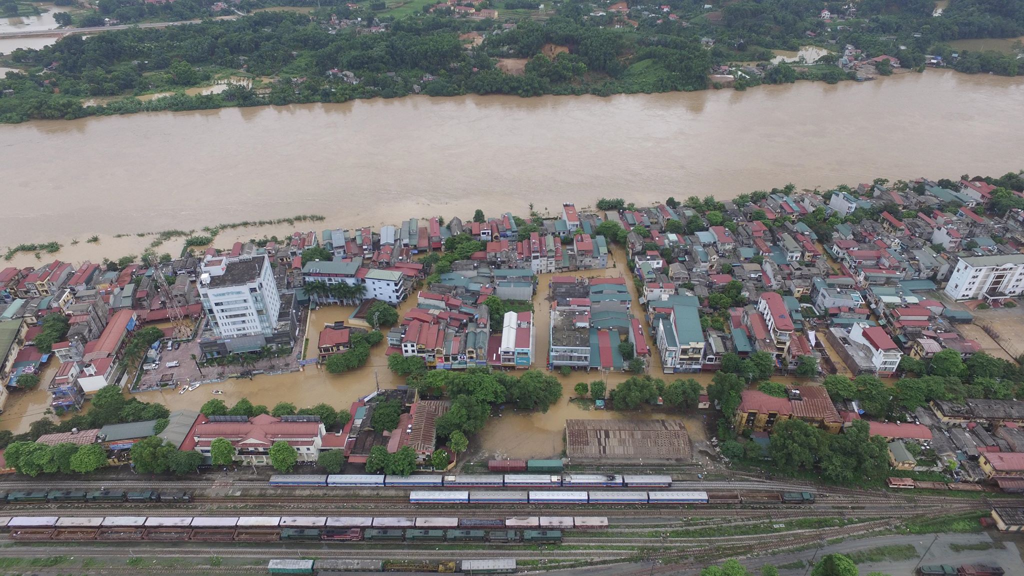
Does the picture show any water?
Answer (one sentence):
Yes, water can be seen from above here.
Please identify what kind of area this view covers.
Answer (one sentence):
The area seen from above is a residential area.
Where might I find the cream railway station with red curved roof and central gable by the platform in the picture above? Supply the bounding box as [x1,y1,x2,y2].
[193,410,323,464]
